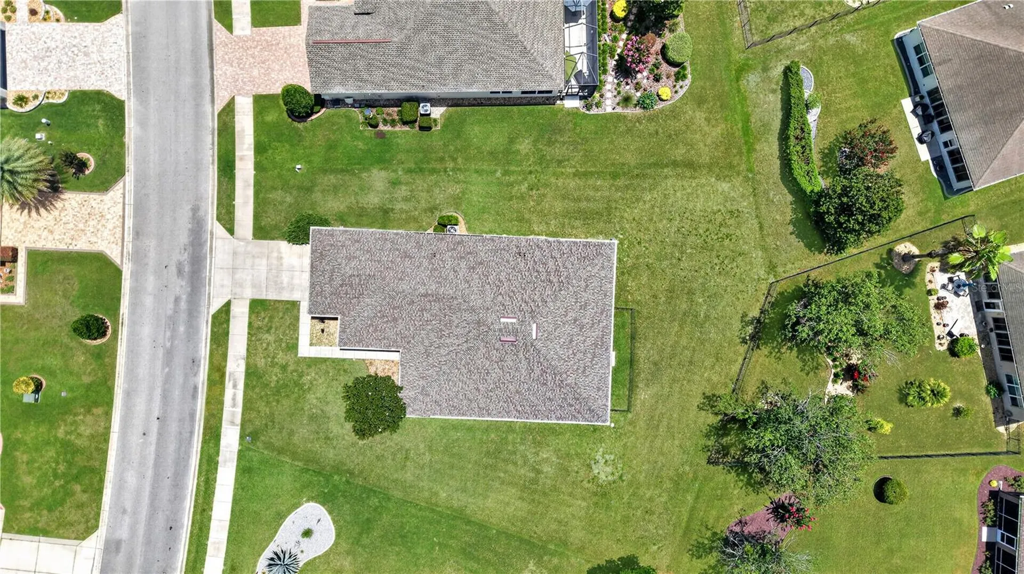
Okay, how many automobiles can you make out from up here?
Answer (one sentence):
The picture shows no automobiles.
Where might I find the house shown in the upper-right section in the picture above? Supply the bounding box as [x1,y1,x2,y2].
[901,0,1024,192]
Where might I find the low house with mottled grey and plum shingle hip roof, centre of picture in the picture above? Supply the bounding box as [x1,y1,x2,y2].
[305,226,619,426]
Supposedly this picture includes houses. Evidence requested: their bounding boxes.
[994,485,1024,574]
[981,255,1024,421]
[305,226,619,426]
[304,0,575,101]
[901,0,1024,192]
[0,14,8,109]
